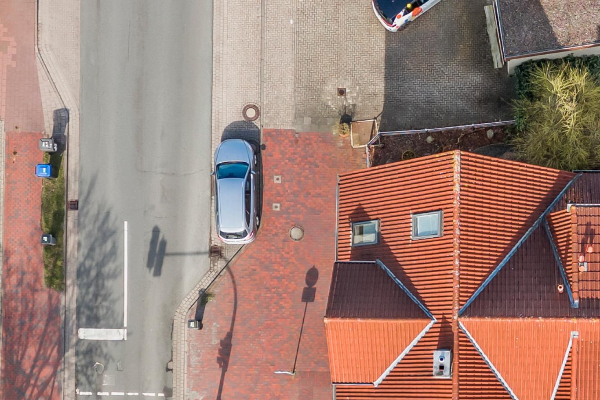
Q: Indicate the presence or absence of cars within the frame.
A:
Yes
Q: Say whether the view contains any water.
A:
No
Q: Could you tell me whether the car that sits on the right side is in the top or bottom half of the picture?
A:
top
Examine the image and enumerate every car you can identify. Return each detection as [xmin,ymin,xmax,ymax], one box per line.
[371,0,445,31]
[208,138,260,242]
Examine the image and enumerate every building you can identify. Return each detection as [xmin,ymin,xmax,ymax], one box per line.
[497,0,600,68]
[324,149,600,400]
